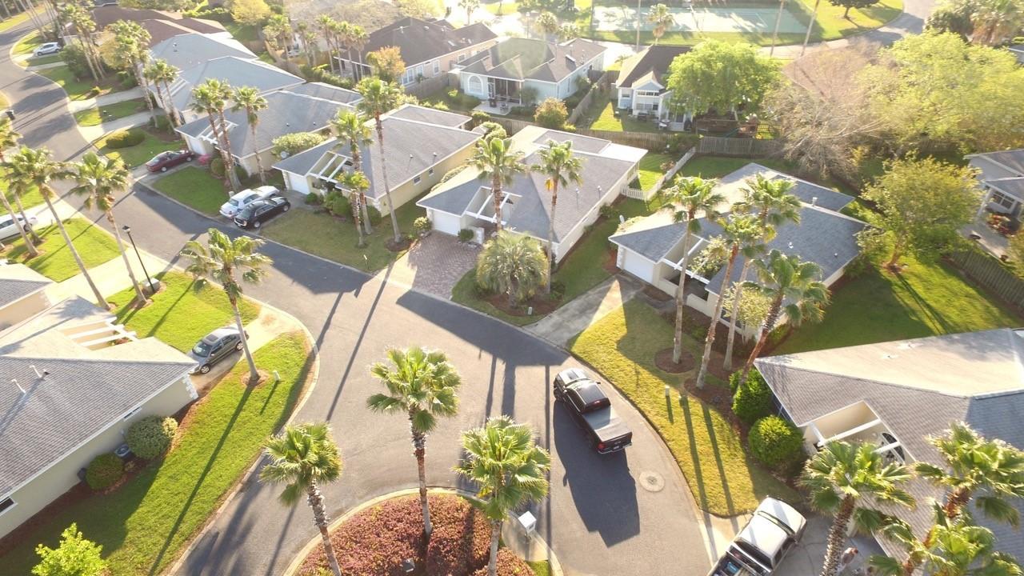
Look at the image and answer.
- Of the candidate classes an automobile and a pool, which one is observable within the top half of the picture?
automobile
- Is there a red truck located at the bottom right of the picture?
No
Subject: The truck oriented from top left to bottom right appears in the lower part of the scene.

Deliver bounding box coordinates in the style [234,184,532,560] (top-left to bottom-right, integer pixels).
[553,372,634,460]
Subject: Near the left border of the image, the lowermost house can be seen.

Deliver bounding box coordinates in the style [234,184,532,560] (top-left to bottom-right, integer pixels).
[0,294,200,538]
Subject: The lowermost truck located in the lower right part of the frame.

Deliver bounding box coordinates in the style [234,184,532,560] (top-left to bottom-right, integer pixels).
[704,502,803,576]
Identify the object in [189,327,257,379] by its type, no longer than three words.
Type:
car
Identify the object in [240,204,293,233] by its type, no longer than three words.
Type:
car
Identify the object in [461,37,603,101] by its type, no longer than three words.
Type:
house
